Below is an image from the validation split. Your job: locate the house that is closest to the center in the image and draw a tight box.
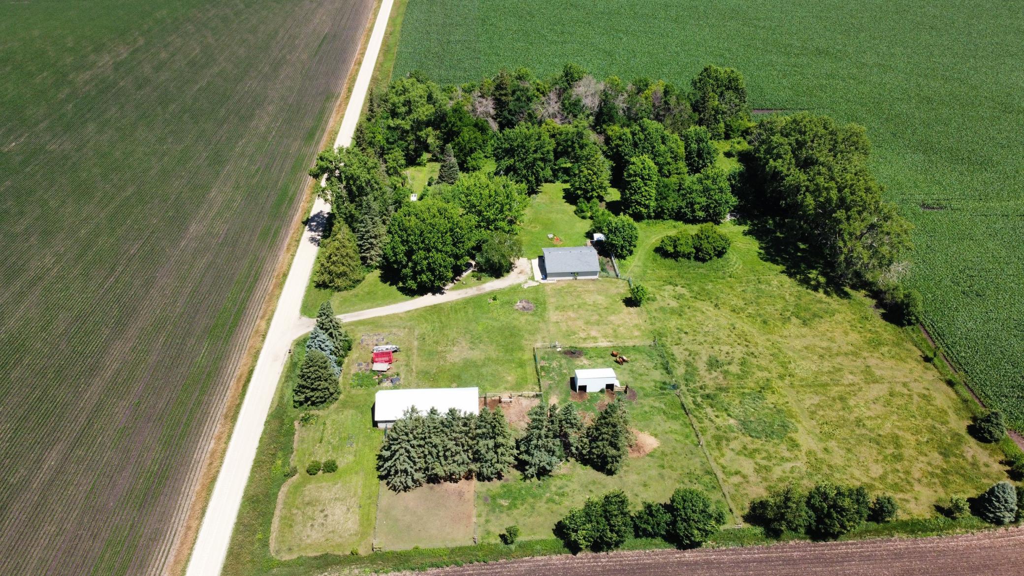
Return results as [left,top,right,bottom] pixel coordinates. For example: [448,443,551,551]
[543,246,601,280]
